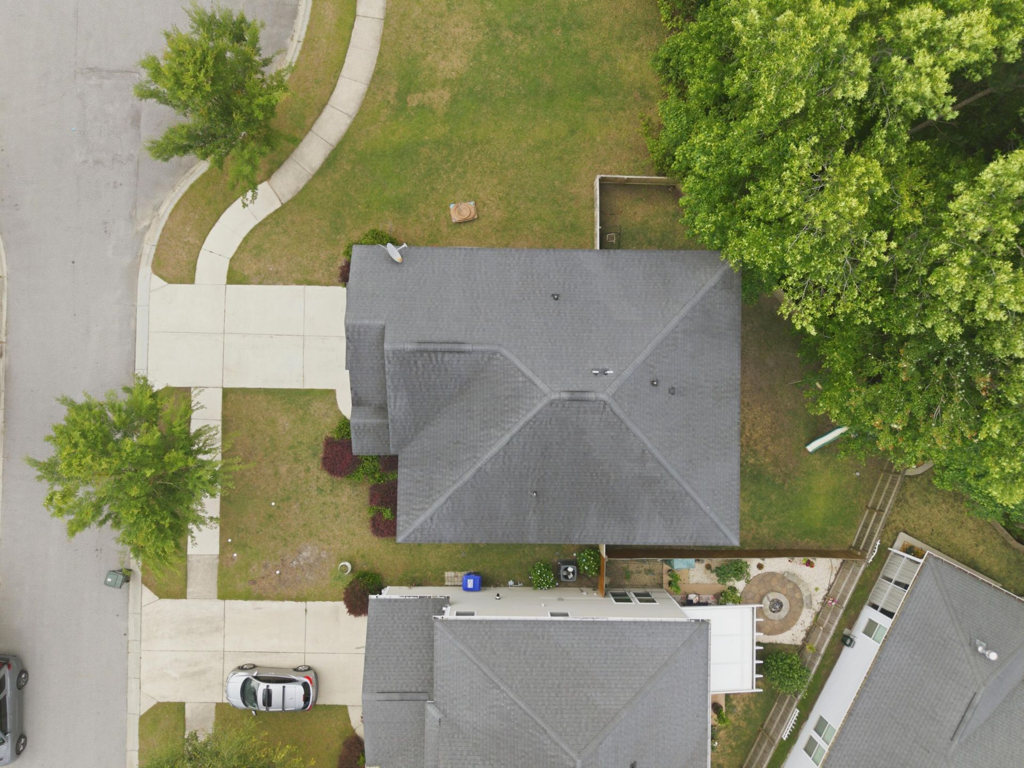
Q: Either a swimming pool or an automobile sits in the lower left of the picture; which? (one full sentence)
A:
Looking in the lower left of the picture, you will find an automobile.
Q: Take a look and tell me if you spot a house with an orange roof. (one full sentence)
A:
No, no house with an orange roof can be seen from above.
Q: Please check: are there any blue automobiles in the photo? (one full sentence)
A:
No, the photo shows no blue automobile.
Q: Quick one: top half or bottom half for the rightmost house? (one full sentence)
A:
It is in the bottom half that the rightmost house appears.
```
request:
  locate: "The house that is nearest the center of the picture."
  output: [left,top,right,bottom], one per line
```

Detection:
[345,245,741,546]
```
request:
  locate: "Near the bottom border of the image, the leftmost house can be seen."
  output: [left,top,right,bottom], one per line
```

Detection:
[362,583,713,768]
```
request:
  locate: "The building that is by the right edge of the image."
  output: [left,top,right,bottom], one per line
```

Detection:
[789,549,1024,768]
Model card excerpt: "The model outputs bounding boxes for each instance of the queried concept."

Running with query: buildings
[345,245,741,546]
[789,549,1024,768]
[362,583,713,768]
